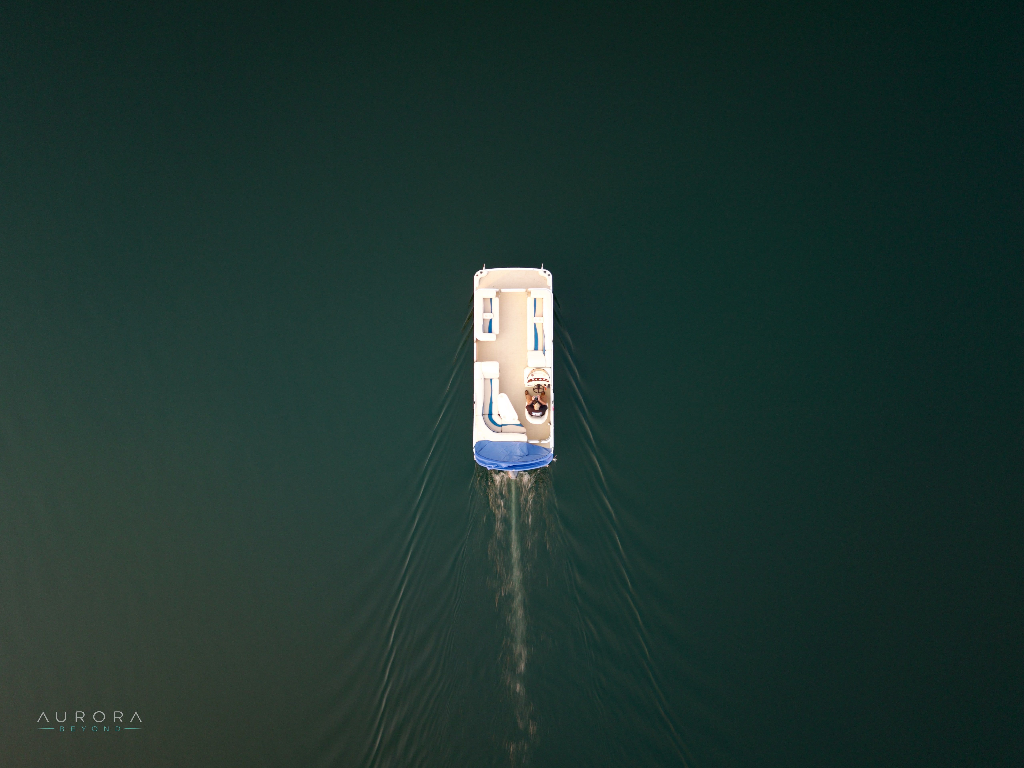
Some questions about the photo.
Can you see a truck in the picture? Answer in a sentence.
No, no truck can be seen from above.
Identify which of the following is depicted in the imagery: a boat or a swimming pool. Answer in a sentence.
I can see a boat in this picture.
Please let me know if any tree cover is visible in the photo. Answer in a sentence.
No, tree cover can't be seen anywhere here.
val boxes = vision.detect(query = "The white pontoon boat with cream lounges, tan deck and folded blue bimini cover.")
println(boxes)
[473,263,554,478]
